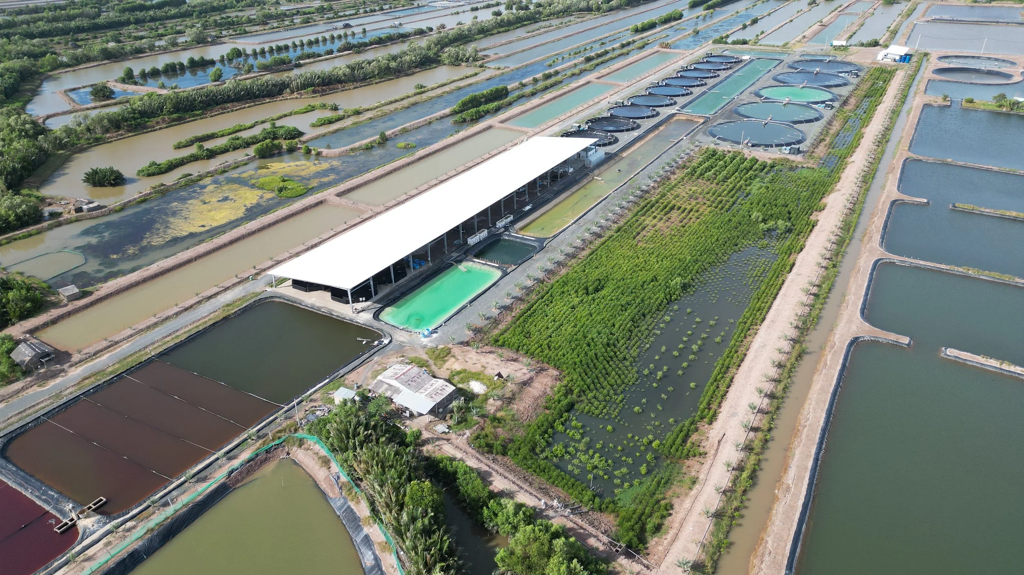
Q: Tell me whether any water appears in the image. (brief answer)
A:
Yes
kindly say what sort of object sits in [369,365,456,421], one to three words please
house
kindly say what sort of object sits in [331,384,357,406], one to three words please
shed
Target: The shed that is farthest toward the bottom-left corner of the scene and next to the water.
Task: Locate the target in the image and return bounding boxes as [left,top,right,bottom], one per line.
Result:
[8,344,59,377]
